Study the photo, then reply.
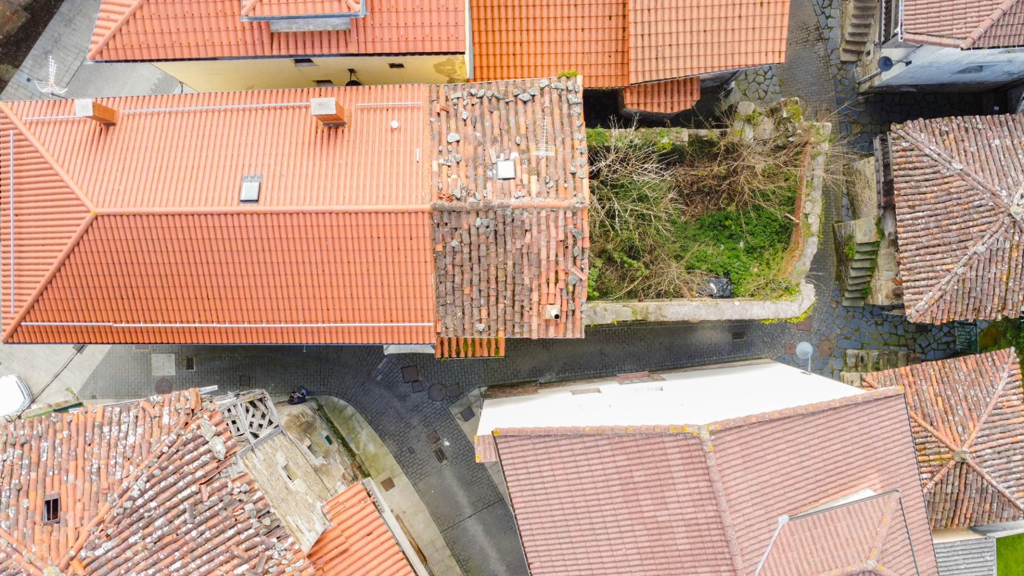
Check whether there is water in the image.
No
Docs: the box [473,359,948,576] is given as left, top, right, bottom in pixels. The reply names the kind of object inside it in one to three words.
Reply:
house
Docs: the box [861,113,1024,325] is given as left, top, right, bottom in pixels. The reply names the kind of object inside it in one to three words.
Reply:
house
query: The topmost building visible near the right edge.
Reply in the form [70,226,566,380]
[851,0,1024,90]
